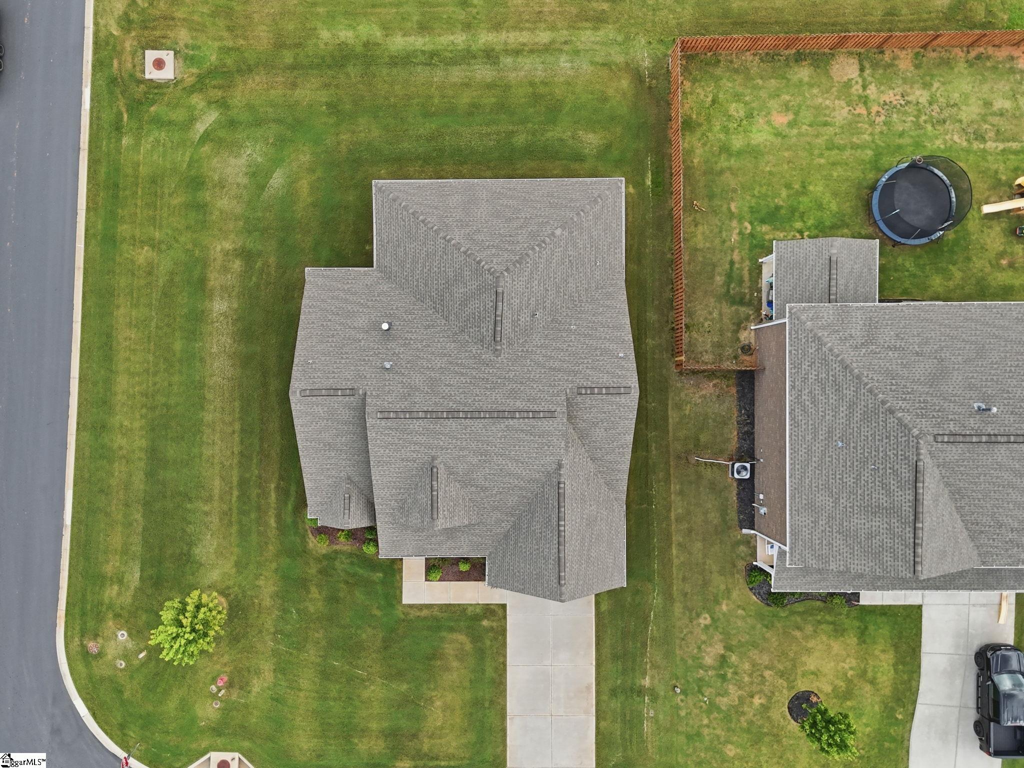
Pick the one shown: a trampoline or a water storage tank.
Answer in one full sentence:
Looking from above, you can make out a trampoline.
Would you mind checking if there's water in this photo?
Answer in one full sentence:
No, the scene doesn't show any water.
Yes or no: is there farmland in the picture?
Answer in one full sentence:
No, the picture contains no farmland.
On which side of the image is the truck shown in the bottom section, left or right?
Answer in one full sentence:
The truck shown in the bottom section appears in the right half of the scene.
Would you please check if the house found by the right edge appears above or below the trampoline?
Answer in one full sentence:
The position of the house found by the right edge is below the trampoline.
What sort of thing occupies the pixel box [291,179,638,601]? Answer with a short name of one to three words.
house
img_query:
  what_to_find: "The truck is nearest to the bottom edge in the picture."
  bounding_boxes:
[973,642,1024,754]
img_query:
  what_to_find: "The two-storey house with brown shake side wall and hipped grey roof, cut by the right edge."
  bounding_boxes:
[744,237,1024,592]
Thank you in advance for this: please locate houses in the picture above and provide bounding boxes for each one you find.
[291,179,638,601]
[744,237,1024,592]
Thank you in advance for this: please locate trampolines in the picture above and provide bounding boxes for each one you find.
[859,154,972,252]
